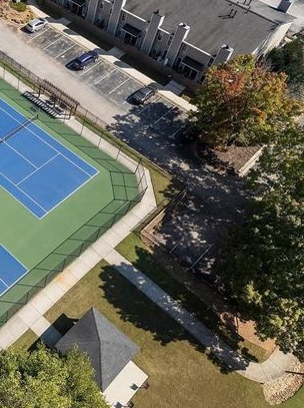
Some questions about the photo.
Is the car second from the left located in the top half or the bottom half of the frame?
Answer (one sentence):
The top half of the photo is where the car second from the left is.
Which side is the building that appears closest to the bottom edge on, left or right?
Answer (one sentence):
It is on the left.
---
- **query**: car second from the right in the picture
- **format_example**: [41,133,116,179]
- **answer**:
[70,49,97,69]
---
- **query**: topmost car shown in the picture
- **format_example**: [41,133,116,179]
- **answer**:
[21,19,44,35]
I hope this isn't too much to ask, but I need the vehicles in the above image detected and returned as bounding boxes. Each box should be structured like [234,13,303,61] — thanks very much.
[128,86,156,107]
[21,19,44,35]
[70,49,97,69]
